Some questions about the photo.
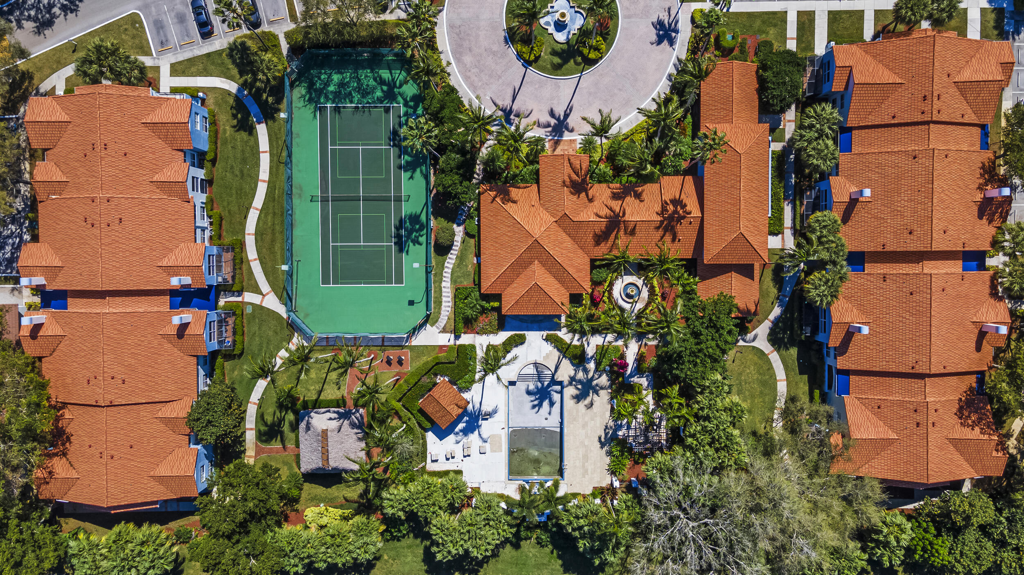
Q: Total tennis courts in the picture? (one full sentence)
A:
My tally gives 1 tennis court in this photo.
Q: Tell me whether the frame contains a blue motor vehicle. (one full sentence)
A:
Yes, a blue motor vehicle appears in the view.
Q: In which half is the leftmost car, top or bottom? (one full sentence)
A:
The leftmost car sits in the top half of the picture.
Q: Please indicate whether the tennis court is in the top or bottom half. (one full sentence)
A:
The tennis court sits in the top half of the picture.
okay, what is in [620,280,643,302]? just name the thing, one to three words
fountain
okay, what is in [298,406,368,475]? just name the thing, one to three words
shed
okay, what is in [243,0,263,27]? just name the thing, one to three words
car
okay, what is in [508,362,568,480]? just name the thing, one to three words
swimming pool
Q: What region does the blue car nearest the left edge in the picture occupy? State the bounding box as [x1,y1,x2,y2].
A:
[190,0,215,36]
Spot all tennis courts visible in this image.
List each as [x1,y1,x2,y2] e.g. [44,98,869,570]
[292,56,431,333]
